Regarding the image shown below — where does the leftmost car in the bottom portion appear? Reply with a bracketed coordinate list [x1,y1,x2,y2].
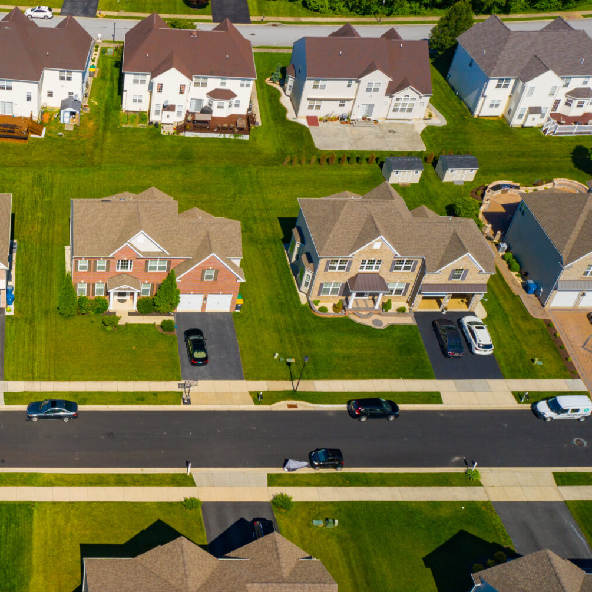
[27,399,80,424]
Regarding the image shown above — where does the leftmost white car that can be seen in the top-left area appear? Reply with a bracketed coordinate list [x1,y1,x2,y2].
[25,6,54,20]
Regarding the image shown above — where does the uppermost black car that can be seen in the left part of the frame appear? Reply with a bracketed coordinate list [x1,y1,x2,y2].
[184,330,208,367]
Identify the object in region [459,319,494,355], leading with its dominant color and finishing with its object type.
white car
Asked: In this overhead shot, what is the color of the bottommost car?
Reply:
black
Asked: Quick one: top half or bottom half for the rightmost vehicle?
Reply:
bottom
